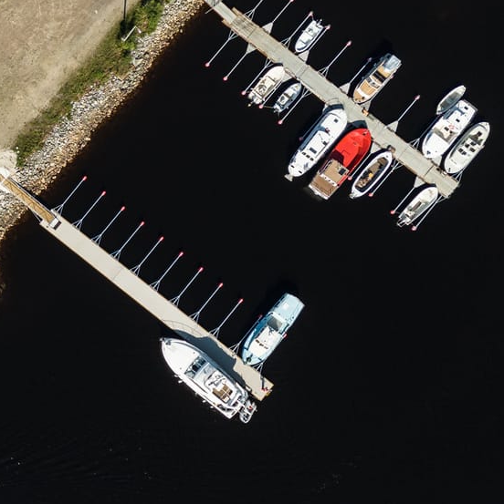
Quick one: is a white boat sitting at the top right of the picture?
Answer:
Yes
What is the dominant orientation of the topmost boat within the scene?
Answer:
diagonally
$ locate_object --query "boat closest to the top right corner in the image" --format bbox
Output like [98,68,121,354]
[430,83,466,122]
